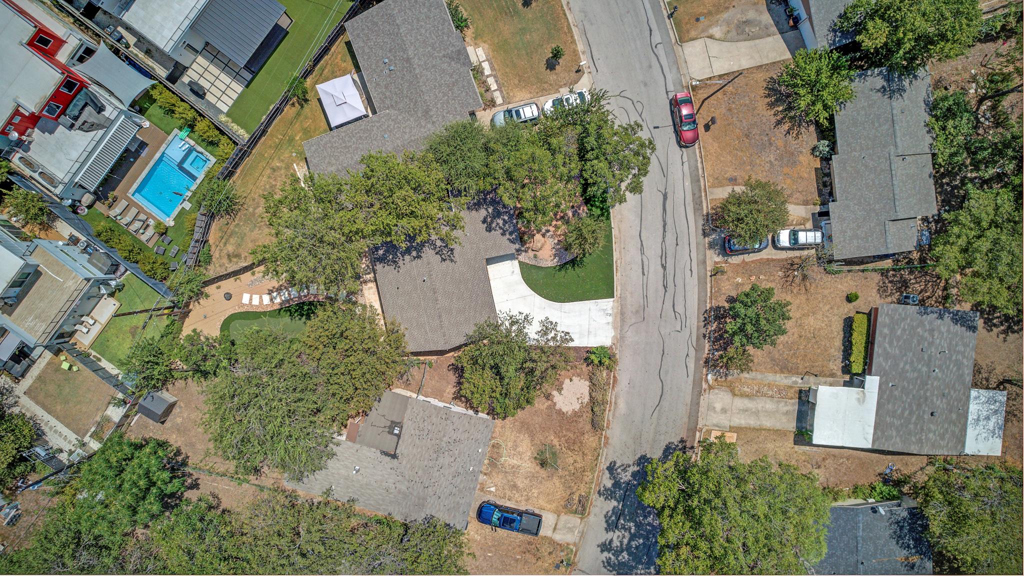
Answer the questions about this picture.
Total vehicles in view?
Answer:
six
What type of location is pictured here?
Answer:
residential area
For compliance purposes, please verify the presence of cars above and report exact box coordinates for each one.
[490,98,541,130]
[541,83,593,118]
[668,92,701,148]
[775,224,825,253]
[724,231,769,258]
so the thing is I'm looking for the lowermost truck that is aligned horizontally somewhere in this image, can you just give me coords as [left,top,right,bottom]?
[476,498,546,537]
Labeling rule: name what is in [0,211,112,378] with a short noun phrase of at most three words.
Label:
house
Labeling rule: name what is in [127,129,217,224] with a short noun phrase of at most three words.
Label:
swimming pool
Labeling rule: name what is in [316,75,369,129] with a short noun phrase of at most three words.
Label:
gazebo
